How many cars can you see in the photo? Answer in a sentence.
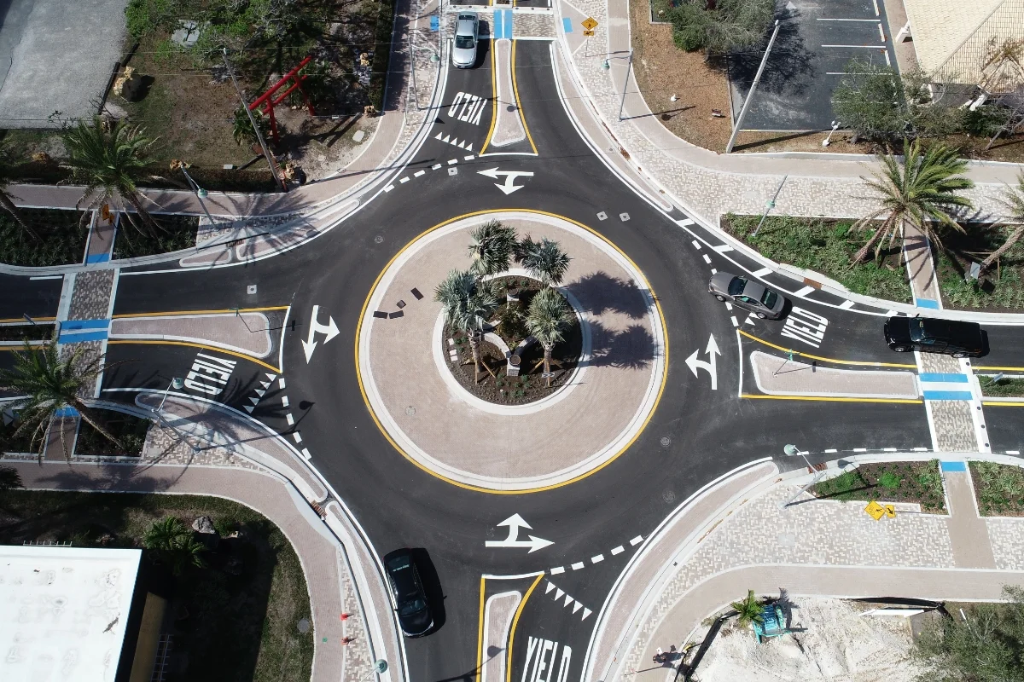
The number of cars here is 4.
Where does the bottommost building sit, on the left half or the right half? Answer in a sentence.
It is on the left.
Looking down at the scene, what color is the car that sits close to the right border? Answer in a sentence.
The car that sits close to the right border looks black in the image.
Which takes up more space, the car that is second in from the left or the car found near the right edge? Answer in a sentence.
It is the car found near the right edge that is larger, not the car that is second in from the left.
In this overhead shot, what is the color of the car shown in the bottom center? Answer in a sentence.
The car shown in the bottom center is black.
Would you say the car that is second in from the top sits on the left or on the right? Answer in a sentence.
The car that is second in from the top is on the right side of the image.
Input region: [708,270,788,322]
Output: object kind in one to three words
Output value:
car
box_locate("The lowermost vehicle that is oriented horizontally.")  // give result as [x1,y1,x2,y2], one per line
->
[882,311,991,360]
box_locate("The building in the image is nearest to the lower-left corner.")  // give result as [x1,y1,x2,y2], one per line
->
[0,547,155,682]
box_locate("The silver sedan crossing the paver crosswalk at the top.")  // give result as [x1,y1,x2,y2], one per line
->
[449,10,481,65]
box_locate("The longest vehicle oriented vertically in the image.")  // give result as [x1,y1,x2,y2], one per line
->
[381,544,435,639]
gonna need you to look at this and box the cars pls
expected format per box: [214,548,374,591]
[882,311,991,360]
[381,544,435,639]
[449,10,481,65]
[708,270,788,322]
